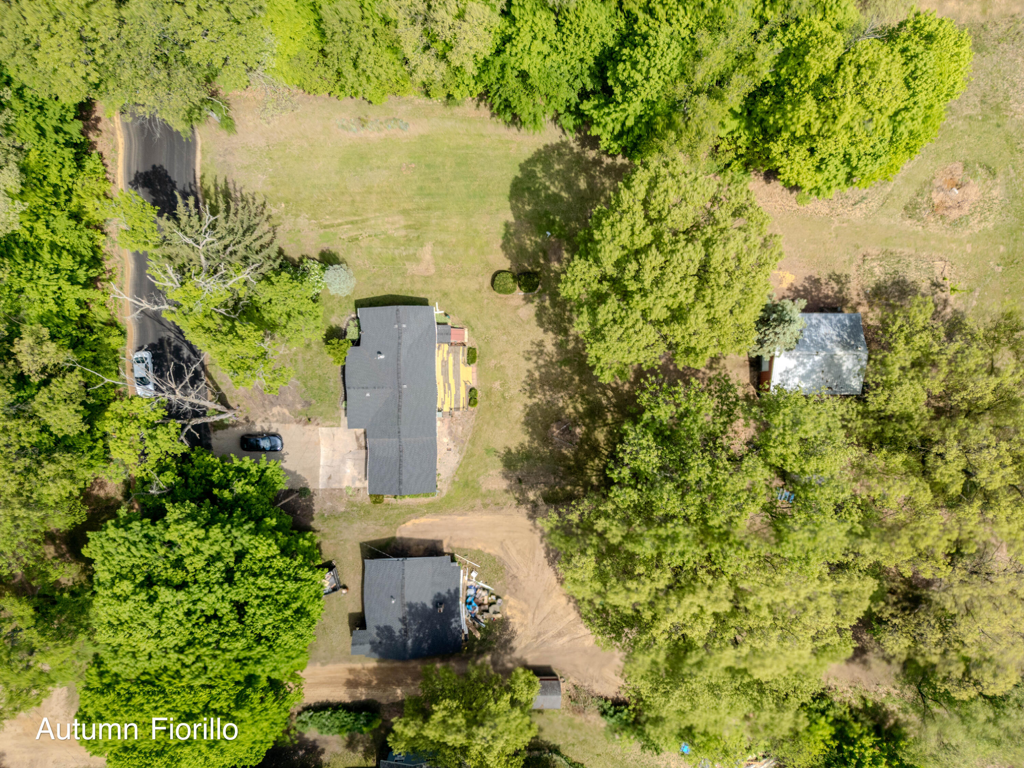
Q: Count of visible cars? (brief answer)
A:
2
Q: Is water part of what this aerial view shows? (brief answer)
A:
No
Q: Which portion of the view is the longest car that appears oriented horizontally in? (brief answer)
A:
left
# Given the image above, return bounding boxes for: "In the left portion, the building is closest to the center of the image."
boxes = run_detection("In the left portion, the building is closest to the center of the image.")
[344,302,444,499]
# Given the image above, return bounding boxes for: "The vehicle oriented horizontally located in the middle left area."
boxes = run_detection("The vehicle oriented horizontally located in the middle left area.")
[238,434,282,454]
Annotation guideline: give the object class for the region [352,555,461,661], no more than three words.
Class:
house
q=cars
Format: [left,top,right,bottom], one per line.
[129,351,153,395]
[238,434,282,454]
